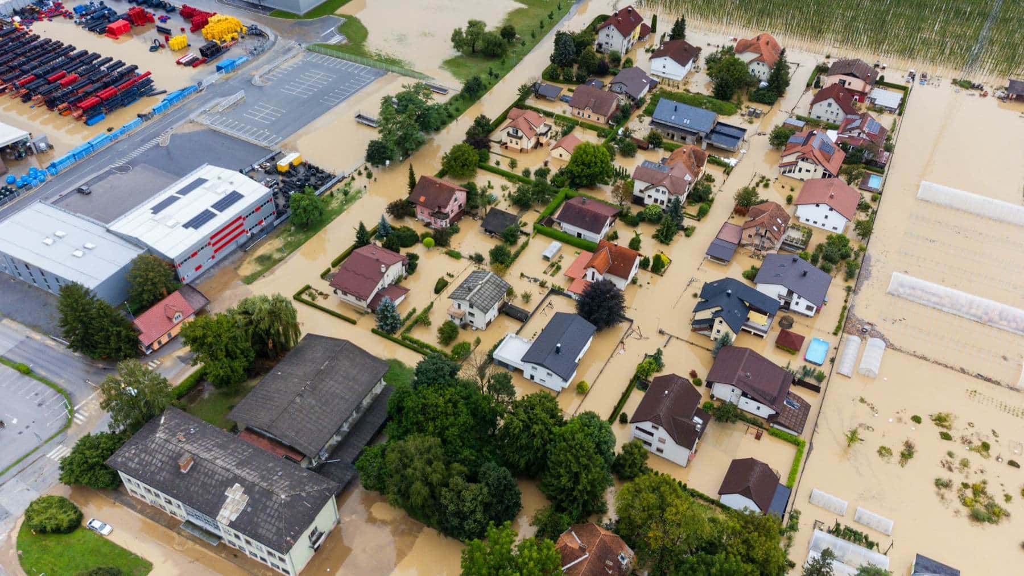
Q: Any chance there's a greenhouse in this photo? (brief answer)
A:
Yes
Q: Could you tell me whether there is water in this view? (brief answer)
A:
Yes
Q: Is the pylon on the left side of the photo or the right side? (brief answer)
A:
right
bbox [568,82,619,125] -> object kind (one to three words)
house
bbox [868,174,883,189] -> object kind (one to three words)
swimming pool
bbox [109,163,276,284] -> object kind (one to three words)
building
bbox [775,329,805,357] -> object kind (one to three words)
gazebo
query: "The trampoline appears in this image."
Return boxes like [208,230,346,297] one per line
[777,312,798,329]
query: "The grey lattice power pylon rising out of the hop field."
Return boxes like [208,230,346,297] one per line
[945,0,1010,86]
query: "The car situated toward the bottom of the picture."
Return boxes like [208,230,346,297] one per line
[83,516,117,539]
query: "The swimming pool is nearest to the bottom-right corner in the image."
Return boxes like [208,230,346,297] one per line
[804,337,829,368]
